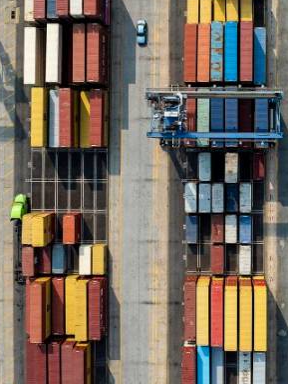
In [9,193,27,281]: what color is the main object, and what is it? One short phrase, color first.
green vehicle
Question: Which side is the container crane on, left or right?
right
